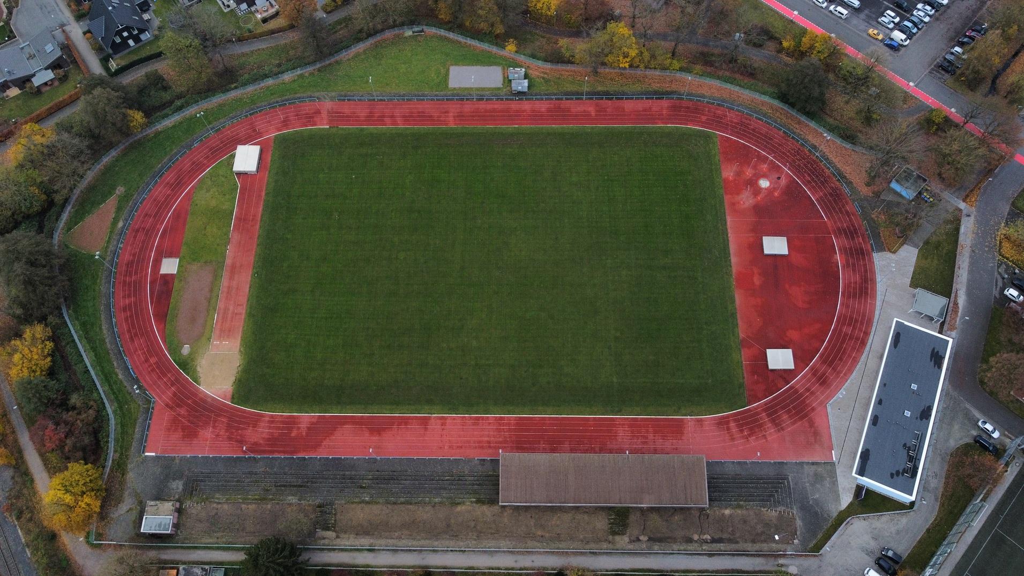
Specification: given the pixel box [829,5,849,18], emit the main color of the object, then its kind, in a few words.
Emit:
white vehicle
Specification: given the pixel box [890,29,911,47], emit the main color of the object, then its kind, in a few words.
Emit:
white vehicle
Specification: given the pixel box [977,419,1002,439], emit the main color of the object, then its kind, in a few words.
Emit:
white car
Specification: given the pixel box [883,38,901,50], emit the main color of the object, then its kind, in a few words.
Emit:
blue vehicle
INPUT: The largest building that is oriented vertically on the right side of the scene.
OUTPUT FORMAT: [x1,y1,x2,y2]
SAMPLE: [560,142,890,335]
[852,319,953,504]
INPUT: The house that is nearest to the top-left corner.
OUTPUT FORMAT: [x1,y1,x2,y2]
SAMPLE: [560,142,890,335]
[0,30,68,99]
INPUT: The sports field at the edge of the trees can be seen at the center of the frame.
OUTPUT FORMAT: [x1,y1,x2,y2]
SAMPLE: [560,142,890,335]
[232,126,747,416]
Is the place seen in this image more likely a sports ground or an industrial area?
sports ground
